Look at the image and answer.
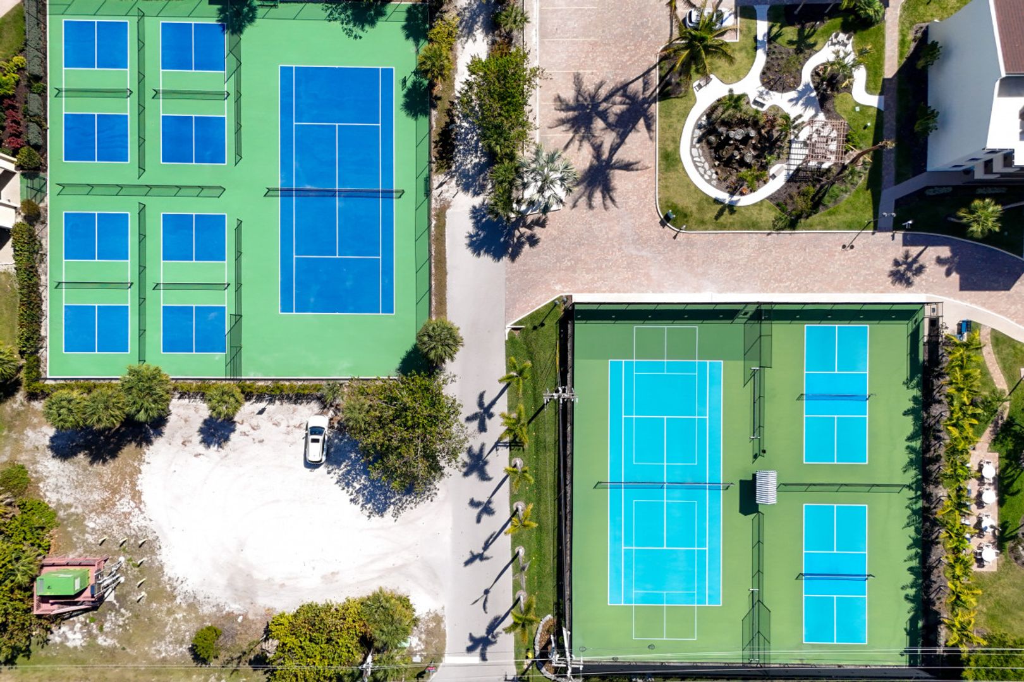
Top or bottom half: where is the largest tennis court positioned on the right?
bottom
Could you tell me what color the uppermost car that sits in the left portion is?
white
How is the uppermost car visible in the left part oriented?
from top to bottom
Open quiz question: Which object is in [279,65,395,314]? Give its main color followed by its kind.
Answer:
blue tennis court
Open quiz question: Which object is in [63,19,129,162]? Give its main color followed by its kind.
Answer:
blue sports court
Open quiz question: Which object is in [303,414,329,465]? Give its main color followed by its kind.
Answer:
white car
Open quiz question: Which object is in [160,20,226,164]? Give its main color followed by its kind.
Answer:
blue sports court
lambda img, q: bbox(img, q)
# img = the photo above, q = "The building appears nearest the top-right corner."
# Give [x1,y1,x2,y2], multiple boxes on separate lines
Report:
[926,0,1024,186]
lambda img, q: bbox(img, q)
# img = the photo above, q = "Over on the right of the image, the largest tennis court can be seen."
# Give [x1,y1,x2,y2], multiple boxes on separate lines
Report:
[608,360,723,607]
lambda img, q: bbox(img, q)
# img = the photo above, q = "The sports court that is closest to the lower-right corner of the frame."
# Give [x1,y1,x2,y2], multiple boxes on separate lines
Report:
[803,505,867,645]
